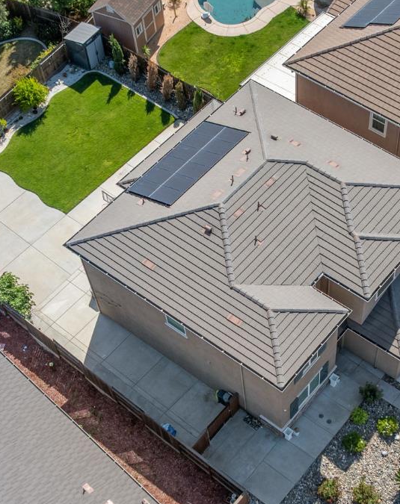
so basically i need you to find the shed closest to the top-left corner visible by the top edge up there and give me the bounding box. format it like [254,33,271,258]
[66,14,107,69]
